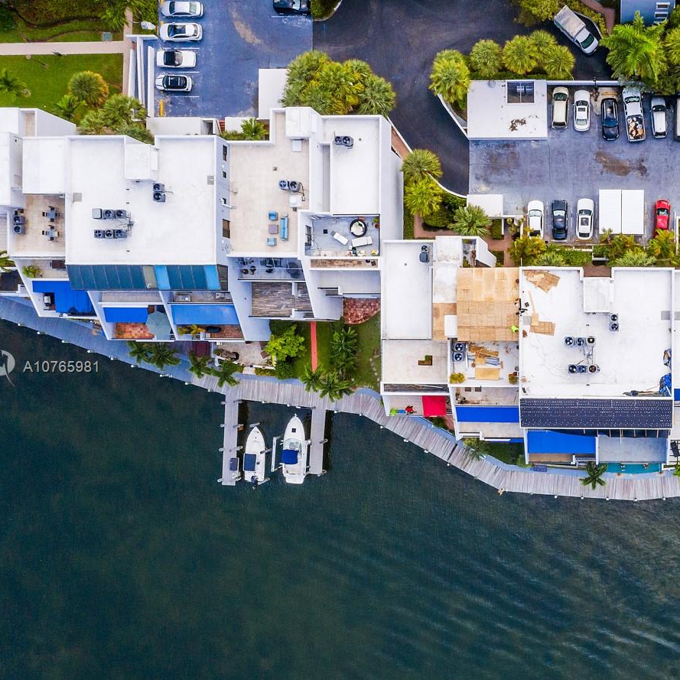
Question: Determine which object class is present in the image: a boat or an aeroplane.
boat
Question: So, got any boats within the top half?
No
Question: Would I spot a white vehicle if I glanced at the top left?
Yes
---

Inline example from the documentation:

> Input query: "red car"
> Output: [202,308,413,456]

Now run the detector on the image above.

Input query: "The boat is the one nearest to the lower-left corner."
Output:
[245,425,267,492]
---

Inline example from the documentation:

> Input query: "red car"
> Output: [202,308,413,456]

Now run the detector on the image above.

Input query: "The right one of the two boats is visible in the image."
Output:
[281,415,310,488]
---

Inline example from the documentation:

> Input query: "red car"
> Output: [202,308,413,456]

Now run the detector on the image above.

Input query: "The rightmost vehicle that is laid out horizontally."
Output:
[272,0,313,17]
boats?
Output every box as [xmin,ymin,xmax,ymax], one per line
[281,415,310,488]
[245,425,267,492]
